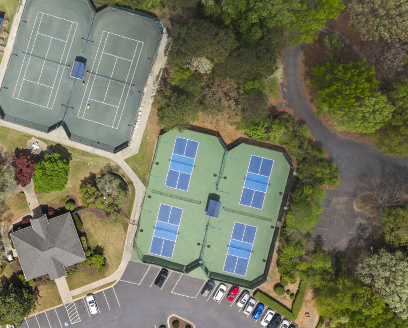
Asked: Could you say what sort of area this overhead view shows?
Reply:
sports ground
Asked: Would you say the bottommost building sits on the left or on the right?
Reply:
left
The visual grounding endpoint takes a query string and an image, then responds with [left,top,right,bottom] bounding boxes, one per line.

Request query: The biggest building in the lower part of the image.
[10,212,86,281]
